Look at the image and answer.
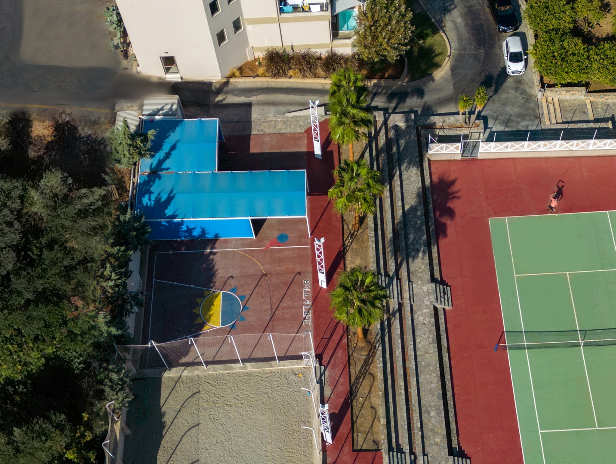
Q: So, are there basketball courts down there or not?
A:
Yes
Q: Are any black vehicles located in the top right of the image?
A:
Yes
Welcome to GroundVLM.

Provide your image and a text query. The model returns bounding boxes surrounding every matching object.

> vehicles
[503,37,528,75]
[491,0,518,33]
